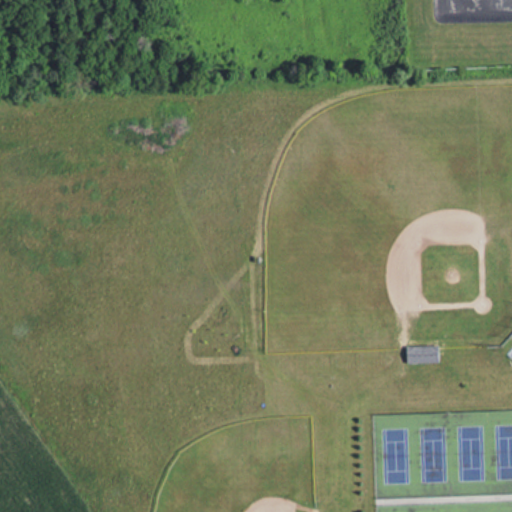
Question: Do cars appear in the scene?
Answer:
No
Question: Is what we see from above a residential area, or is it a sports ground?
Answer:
sports ground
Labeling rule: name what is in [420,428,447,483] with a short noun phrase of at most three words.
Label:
tennis court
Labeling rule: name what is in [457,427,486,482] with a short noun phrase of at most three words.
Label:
tennis court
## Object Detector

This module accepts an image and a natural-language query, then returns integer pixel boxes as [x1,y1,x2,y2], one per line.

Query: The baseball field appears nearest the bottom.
[152,415,320,512]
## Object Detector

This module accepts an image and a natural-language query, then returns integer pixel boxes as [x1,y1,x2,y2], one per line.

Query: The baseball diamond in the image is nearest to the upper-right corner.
[265,84,512,354]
